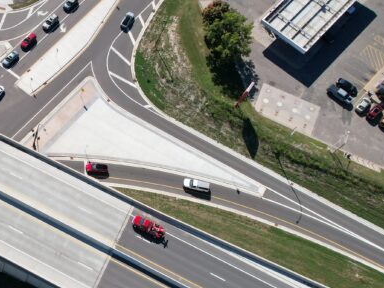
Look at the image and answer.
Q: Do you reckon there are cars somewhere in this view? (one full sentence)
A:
Yes, a car can be made out from above.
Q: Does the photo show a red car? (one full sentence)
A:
Yes, a red car appears in the view.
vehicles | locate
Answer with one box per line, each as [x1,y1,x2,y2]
[2,51,19,67]
[131,214,173,240]
[354,99,371,114]
[85,164,108,175]
[327,85,351,104]
[62,0,79,11]
[21,32,38,49]
[366,105,384,121]
[183,180,212,193]
[120,12,135,30]
[378,119,384,129]
[336,79,358,95]
[42,15,60,31]
[342,3,359,18]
